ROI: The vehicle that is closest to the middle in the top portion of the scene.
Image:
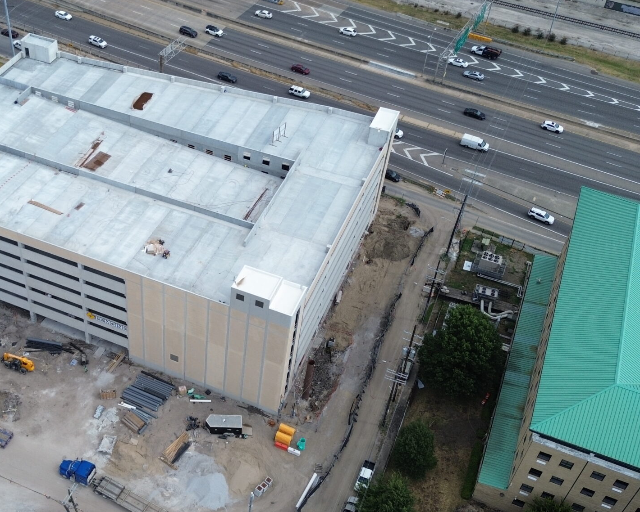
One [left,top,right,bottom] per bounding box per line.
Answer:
[385,170,403,183]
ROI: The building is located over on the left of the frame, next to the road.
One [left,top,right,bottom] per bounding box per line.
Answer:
[0,33,400,416]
